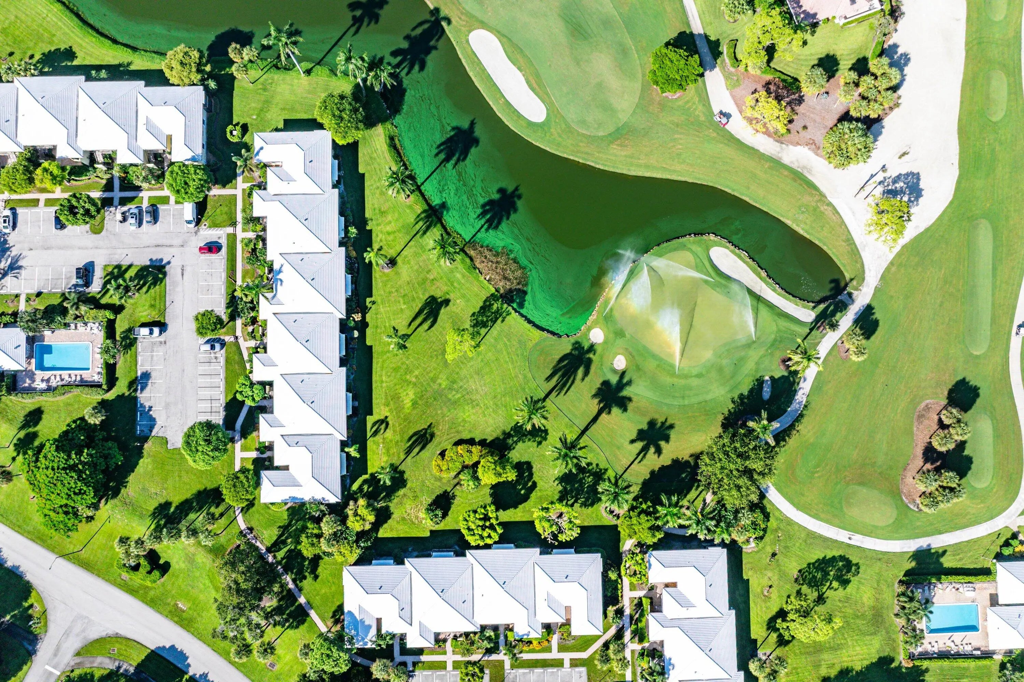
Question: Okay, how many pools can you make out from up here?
two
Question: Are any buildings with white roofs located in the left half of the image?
Yes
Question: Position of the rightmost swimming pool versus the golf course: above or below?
below it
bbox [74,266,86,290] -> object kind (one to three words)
vehicle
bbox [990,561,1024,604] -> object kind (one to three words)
building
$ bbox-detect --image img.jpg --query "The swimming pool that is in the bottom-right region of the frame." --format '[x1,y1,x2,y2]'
[902,584,1014,659]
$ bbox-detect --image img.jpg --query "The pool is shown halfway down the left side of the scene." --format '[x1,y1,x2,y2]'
[11,322,98,392]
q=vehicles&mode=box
[130,327,161,338]
[143,205,154,226]
[181,201,195,228]
[127,208,138,230]
[198,245,218,255]
[74,266,86,290]
[53,208,65,229]
[199,343,222,353]
[116,212,126,223]
[0,209,12,232]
